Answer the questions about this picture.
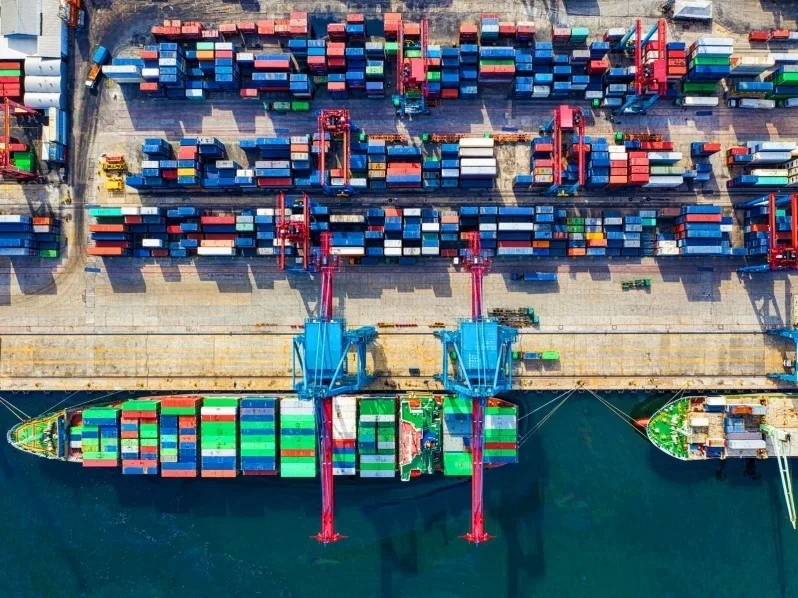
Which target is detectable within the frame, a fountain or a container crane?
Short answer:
container crane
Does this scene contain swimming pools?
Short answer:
No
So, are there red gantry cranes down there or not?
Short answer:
Yes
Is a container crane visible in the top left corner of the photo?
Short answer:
Yes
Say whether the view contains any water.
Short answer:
Yes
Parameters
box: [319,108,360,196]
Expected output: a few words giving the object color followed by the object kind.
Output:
red container crane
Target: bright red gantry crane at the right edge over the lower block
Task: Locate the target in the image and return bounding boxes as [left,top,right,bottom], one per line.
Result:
[735,193,798,275]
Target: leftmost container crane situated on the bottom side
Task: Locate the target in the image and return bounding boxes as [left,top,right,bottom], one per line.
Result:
[286,235,383,542]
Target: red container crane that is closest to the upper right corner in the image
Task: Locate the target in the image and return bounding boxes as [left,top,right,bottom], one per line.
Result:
[610,18,668,113]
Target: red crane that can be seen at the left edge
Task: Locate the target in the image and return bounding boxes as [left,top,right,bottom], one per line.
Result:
[0,98,48,180]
